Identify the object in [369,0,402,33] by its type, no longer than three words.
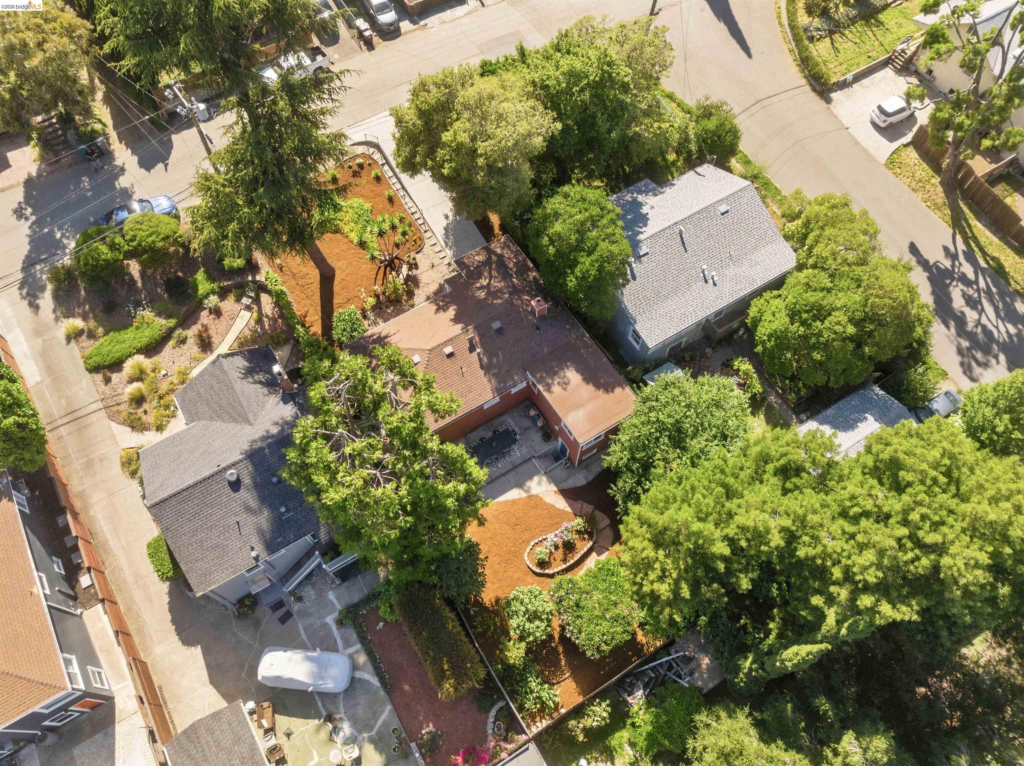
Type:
car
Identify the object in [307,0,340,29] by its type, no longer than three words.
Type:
car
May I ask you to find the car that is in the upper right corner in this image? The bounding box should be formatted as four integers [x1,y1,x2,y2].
[874,96,928,132]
